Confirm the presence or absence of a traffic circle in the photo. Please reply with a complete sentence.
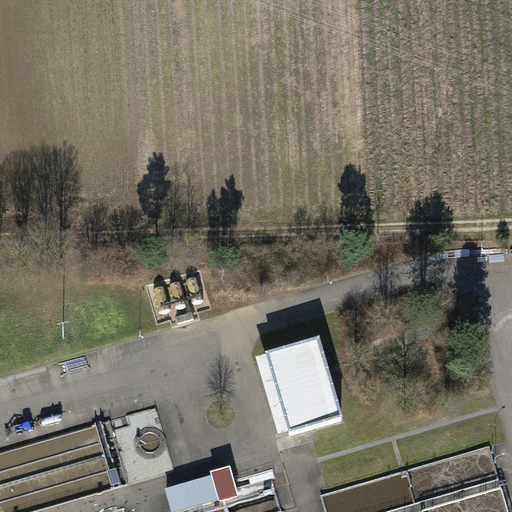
No, I find no traffic circle anywhere in the image.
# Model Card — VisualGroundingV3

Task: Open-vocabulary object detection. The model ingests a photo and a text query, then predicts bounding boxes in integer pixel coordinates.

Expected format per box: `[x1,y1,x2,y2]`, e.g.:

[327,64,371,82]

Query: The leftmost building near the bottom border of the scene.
[166,466,238,512]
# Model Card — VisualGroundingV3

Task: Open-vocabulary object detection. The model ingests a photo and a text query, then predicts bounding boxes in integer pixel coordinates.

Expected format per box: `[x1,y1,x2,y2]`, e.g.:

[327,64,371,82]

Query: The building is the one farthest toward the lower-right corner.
[256,336,342,438]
